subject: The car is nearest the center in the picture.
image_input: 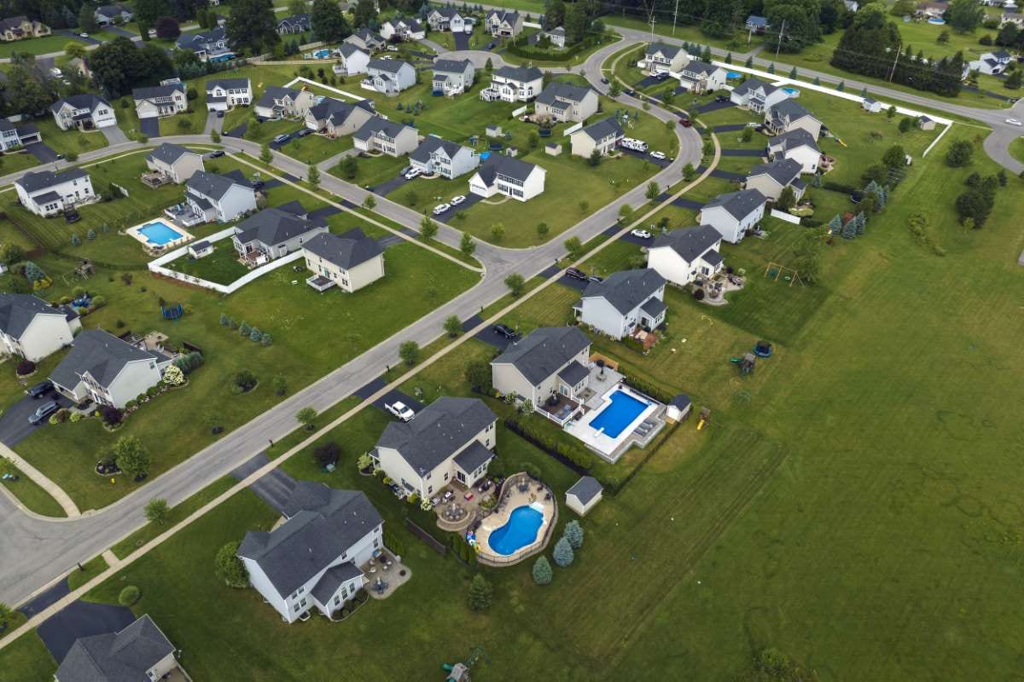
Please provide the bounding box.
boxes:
[494,322,518,339]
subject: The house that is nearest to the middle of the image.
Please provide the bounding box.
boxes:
[490,320,593,407]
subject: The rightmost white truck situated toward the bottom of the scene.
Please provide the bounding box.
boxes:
[384,399,416,420]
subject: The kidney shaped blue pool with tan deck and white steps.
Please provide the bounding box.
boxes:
[475,473,557,562]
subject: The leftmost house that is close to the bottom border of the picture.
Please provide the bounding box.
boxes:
[44,614,183,682]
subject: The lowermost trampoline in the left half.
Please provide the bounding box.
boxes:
[159,299,184,320]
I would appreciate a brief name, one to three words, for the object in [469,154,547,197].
house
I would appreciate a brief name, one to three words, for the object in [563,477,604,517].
shed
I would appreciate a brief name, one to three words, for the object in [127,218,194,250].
swimming pool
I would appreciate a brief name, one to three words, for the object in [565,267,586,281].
car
